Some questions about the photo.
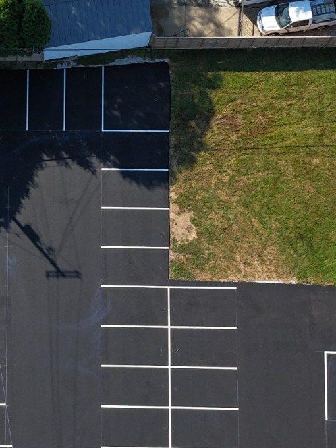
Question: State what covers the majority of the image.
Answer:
paved ground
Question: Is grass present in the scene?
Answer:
Yes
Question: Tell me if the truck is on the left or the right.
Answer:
right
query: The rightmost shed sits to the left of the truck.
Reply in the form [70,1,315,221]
[36,0,153,60]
